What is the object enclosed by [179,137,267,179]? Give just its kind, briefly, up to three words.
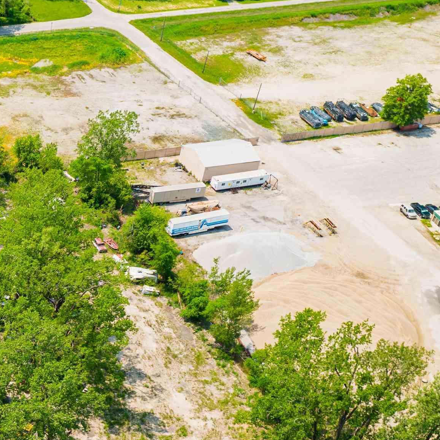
building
